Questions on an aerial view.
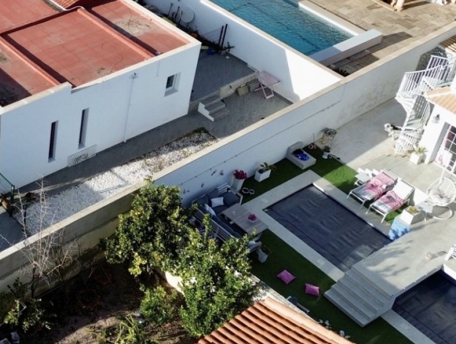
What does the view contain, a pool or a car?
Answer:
pool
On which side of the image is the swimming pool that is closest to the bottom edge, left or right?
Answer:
right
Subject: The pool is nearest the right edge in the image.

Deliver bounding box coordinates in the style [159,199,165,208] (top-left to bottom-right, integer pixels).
[359,264,456,344]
